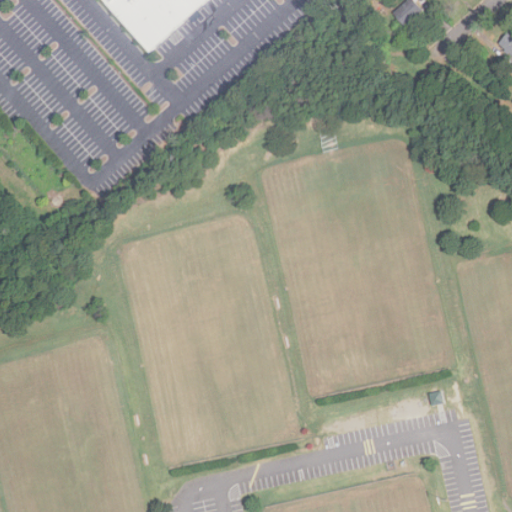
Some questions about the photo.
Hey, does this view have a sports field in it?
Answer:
Yes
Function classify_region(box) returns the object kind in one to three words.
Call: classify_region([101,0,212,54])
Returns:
building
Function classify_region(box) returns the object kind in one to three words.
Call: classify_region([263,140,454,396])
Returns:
sports field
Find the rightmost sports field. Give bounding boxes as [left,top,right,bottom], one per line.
[457,255,512,512]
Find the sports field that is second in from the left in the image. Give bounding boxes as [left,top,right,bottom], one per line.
[121,216,298,466]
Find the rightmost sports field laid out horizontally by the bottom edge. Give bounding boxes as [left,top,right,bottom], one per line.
[257,476,430,512]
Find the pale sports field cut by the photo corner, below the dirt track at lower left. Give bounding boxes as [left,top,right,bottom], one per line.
[0,337,144,512]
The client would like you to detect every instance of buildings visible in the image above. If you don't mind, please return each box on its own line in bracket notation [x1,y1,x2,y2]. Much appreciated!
[393,0,422,25]
[498,30,512,58]
[428,390,443,406]
[101,0,212,54]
